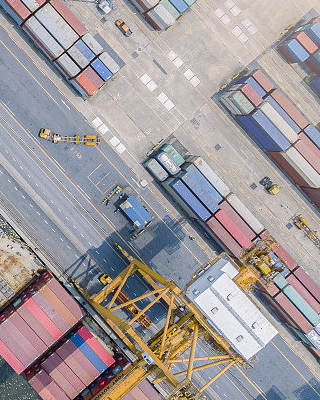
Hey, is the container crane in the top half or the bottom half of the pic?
bottom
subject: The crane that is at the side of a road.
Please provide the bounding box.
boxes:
[73,238,298,400]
